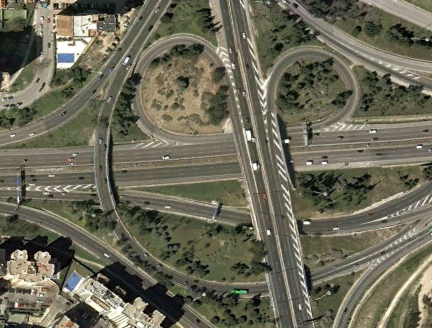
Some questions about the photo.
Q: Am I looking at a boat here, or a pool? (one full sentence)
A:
The one in the frame is a pool.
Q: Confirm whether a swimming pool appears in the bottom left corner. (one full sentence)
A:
Yes, a swimming pool can be seen in the bottom left corner.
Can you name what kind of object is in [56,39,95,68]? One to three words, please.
swimming pool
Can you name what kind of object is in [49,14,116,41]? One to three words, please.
building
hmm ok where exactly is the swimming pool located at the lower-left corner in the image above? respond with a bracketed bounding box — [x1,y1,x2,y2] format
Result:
[62,269,86,293]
